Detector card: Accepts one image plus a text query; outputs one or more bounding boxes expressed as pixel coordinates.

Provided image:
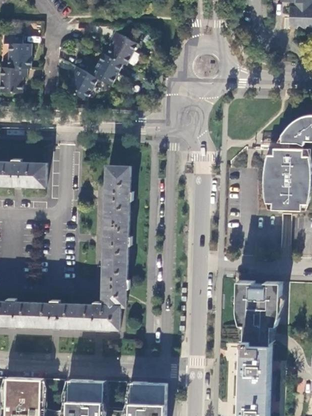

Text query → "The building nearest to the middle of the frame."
[100,166,137,310]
